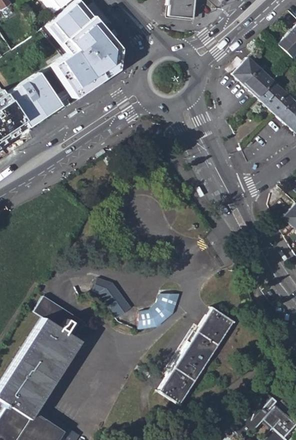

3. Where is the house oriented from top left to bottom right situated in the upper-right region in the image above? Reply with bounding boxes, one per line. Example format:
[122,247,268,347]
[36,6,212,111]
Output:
[229,56,296,133]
